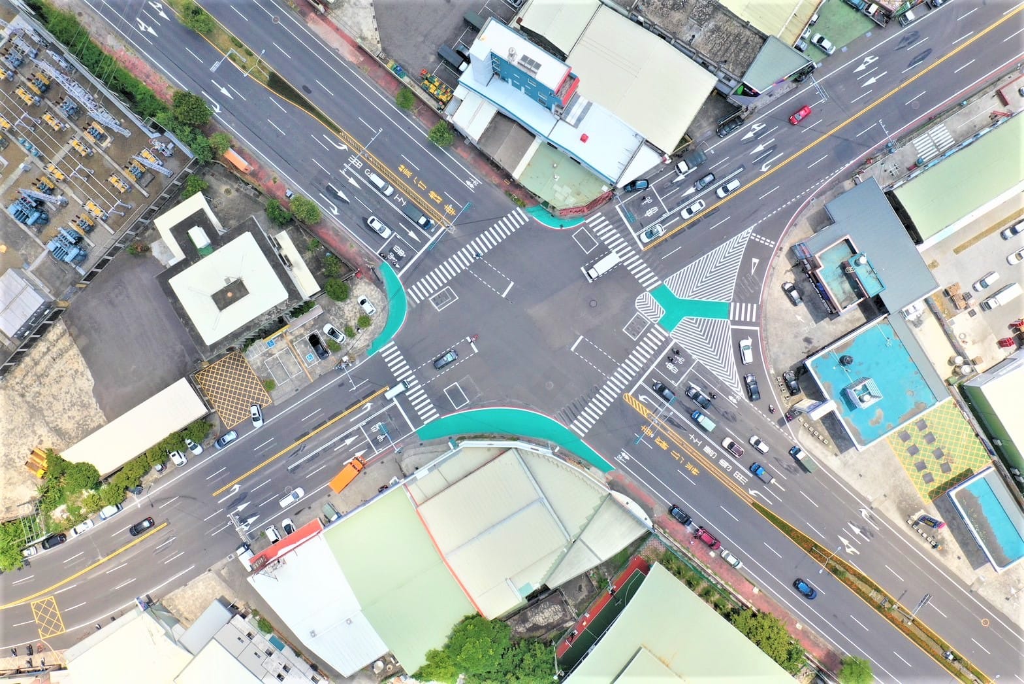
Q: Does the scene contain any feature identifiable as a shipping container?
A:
Yes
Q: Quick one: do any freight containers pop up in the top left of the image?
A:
Yes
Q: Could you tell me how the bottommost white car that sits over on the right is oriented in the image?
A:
at an angle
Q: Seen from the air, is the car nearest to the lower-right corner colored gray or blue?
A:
blue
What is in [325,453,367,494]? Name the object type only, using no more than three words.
truck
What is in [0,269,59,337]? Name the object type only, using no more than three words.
building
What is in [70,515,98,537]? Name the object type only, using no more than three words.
car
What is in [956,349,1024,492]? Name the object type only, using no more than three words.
building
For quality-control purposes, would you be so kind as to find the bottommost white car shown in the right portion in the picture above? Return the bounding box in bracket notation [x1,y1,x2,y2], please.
[717,546,744,570]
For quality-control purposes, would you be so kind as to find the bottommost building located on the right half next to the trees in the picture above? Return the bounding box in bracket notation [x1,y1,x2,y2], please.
[566,561,802,684]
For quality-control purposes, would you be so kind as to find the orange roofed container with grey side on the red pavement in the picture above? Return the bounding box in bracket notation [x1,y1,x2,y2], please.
[221,146,254,175]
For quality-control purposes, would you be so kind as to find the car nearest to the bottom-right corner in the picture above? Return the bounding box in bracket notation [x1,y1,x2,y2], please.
[792,577,816,599]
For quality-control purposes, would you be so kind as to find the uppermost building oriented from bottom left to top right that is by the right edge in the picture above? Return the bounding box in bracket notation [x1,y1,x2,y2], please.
[883,105,1024,249]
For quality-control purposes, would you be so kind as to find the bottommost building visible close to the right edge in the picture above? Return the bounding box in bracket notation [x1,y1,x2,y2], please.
[944,465,1024,572]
